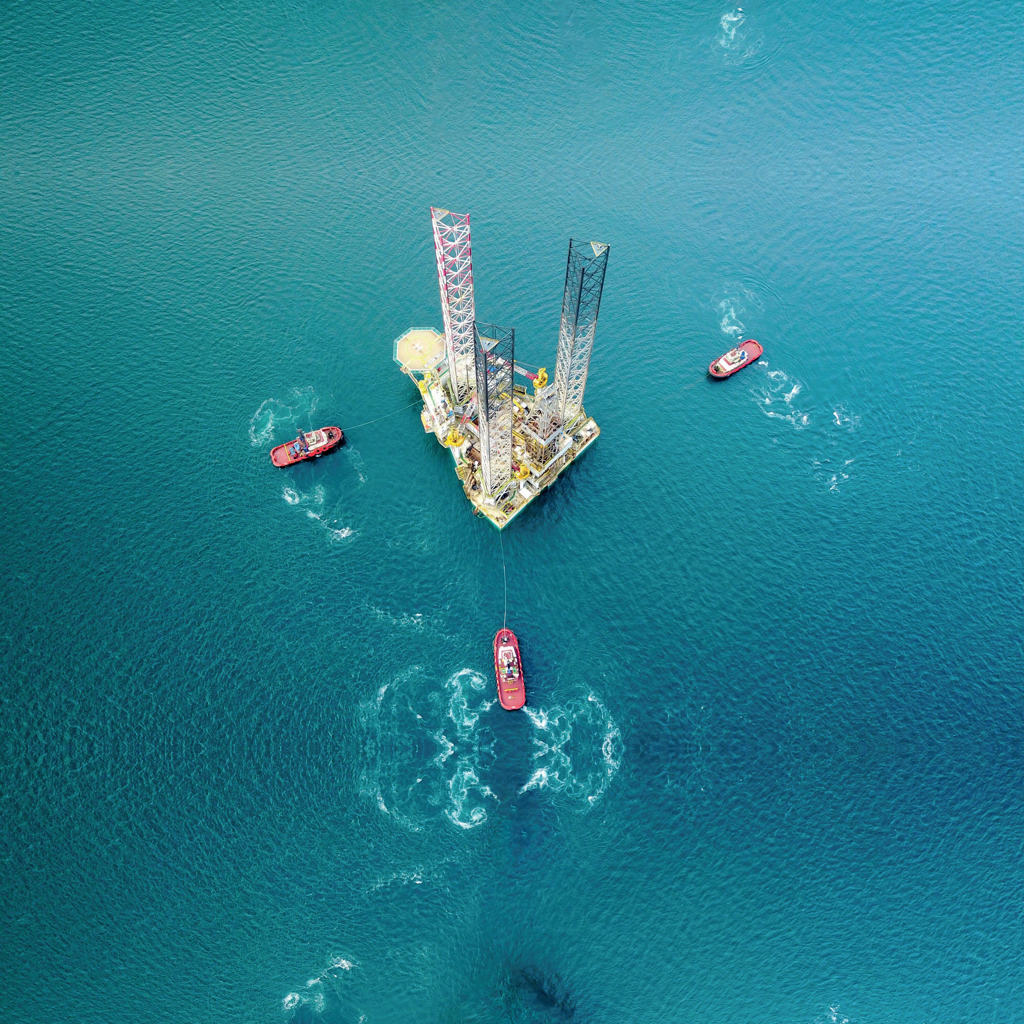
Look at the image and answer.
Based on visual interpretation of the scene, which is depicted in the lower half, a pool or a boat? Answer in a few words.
boat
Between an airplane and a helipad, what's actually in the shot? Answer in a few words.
helipad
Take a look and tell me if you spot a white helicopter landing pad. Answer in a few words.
Yes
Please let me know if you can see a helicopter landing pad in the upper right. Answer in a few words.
No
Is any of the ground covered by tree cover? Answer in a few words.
No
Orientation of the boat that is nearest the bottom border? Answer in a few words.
vertically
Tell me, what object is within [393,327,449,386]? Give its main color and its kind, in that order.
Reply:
white helipad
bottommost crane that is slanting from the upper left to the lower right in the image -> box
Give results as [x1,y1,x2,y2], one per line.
[476,427,532,492]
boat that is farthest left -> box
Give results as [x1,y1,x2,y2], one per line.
[270,427,344,467]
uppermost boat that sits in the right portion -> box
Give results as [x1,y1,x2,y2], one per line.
[708,340,765,376]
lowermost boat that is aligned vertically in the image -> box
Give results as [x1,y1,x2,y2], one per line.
[493,626,527,711]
